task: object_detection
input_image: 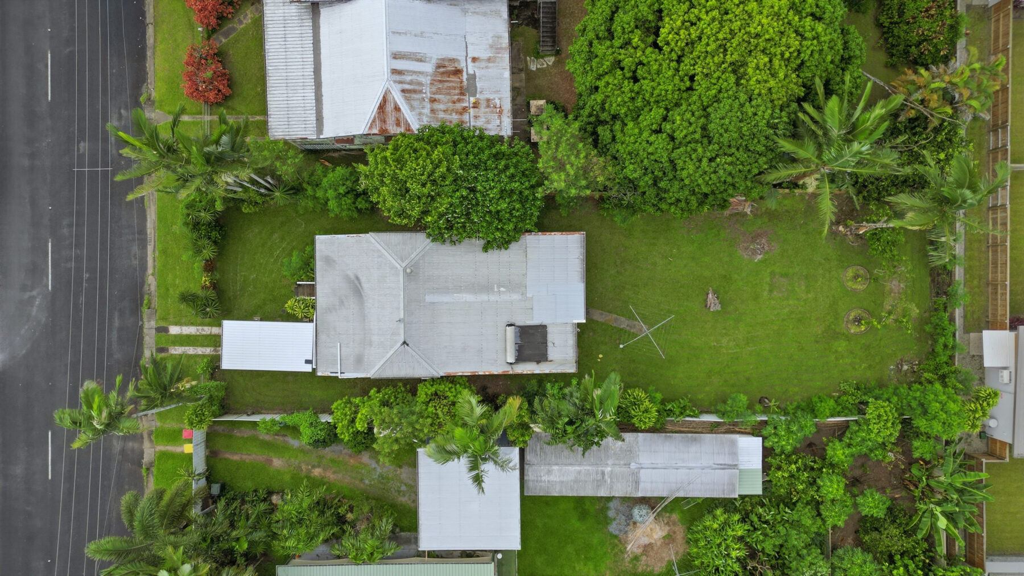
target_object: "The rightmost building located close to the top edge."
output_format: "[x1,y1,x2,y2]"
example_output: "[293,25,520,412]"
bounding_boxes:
[263,0,527,151]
